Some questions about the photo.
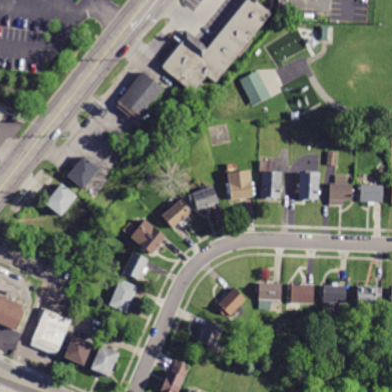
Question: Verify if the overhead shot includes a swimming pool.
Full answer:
No, no swimming pool is visible in the scene.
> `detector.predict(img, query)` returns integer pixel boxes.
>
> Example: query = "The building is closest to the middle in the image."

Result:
[192,186,218,210]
